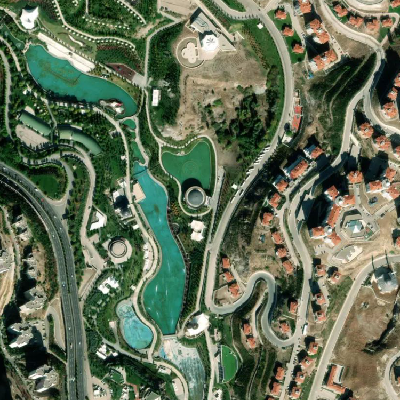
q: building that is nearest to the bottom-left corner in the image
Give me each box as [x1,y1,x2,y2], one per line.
[30,364,59,390]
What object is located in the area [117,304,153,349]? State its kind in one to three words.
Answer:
swimming pool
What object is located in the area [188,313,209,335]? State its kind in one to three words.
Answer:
tent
